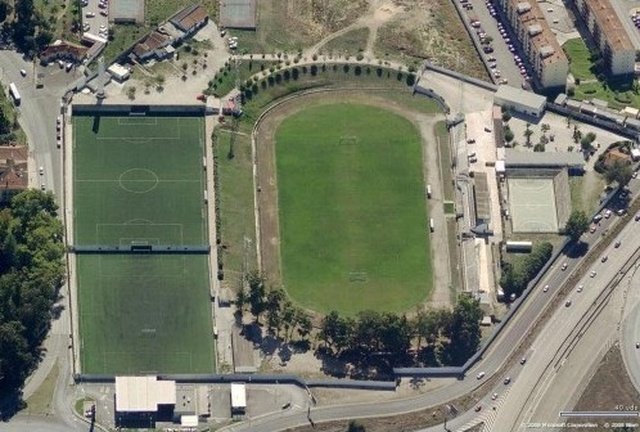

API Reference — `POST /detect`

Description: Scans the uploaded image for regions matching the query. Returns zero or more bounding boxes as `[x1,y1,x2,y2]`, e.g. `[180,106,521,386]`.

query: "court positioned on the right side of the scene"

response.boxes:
[508,179,559,233]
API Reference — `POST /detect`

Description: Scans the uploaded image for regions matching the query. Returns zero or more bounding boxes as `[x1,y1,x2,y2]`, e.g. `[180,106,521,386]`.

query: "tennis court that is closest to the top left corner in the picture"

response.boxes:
[109,0,145,23]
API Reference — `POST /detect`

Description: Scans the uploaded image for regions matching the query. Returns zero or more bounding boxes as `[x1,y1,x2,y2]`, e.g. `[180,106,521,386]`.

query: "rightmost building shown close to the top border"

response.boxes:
[571,0,634,77]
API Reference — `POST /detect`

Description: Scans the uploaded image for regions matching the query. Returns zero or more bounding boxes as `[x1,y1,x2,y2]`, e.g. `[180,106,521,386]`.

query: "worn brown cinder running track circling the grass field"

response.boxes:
[253,90,453,336]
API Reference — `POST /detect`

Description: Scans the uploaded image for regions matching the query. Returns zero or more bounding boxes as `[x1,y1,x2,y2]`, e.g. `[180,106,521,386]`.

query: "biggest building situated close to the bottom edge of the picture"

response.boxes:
[116,376,175,419]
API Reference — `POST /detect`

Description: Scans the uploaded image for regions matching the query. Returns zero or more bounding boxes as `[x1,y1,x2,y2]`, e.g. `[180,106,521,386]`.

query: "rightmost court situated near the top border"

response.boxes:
[220,0,256,29]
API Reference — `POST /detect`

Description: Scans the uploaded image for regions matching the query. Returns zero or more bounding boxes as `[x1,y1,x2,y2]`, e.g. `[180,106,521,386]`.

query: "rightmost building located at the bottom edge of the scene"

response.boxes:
[231,383,246,413]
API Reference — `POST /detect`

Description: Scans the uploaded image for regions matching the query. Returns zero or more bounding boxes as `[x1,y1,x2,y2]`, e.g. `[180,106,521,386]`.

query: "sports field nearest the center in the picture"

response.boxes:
[275,103,433,321]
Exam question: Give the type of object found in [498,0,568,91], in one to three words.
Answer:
building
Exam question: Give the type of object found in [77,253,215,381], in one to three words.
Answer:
soccer field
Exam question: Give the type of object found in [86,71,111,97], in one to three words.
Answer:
building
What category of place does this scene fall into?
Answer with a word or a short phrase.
sports ground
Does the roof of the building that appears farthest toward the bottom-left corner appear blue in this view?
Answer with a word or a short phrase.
No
